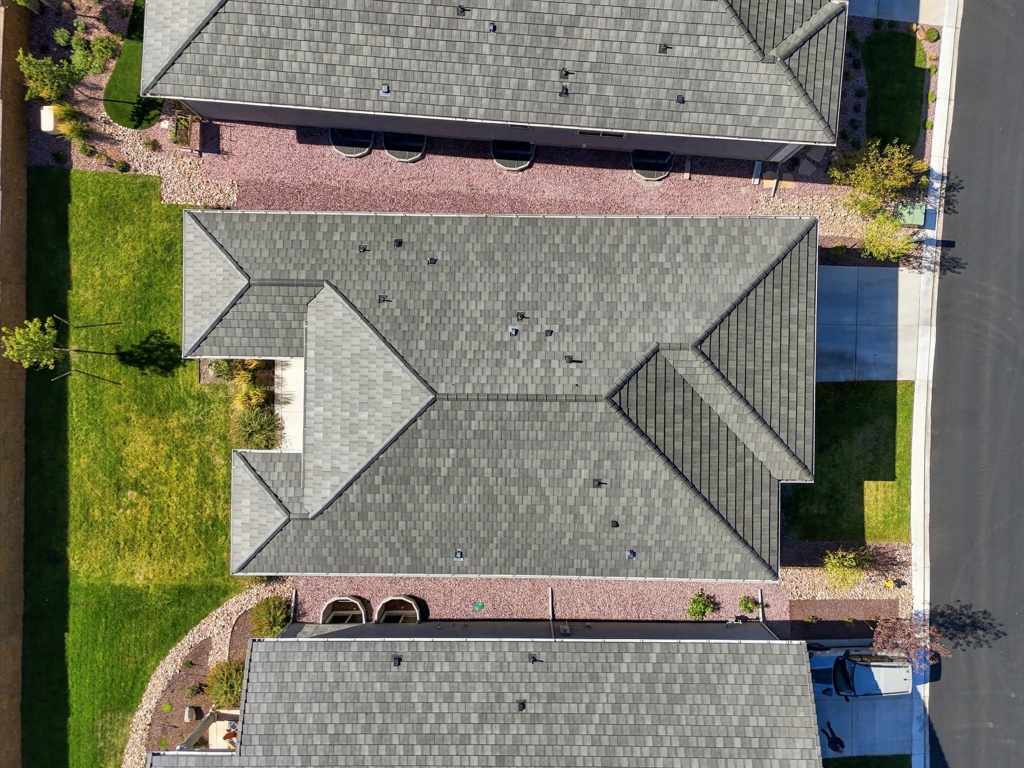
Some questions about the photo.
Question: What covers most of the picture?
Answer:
buildings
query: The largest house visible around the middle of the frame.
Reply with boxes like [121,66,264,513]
[182,210,818,582]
